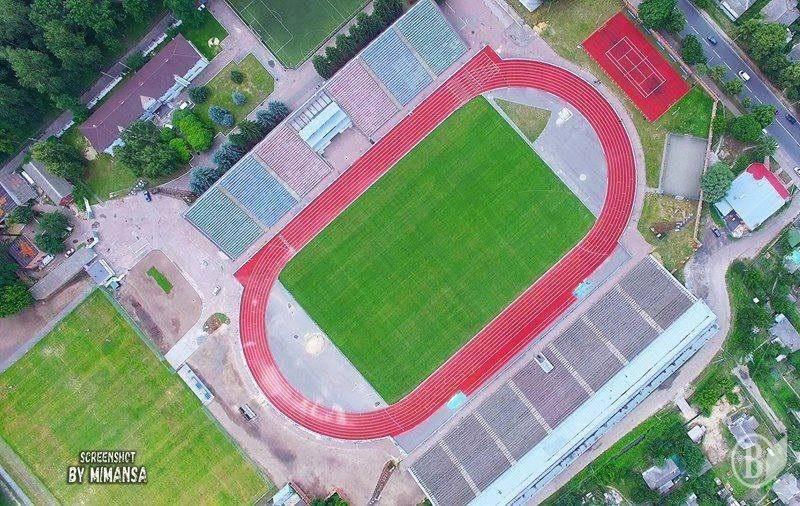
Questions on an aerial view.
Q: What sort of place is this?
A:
sports ground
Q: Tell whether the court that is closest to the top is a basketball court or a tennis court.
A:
tennis court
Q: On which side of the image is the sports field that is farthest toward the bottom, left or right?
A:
left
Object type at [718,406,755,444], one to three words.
house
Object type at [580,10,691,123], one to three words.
tennis court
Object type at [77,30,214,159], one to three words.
building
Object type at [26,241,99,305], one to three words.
shed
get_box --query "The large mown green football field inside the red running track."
[278,94,598,406]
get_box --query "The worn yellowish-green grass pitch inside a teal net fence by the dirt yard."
[0,291,281,506]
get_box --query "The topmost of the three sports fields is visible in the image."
[227,0,372,69]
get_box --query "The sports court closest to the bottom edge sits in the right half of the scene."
[659,132,709,201]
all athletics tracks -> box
[235,46,638,442]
